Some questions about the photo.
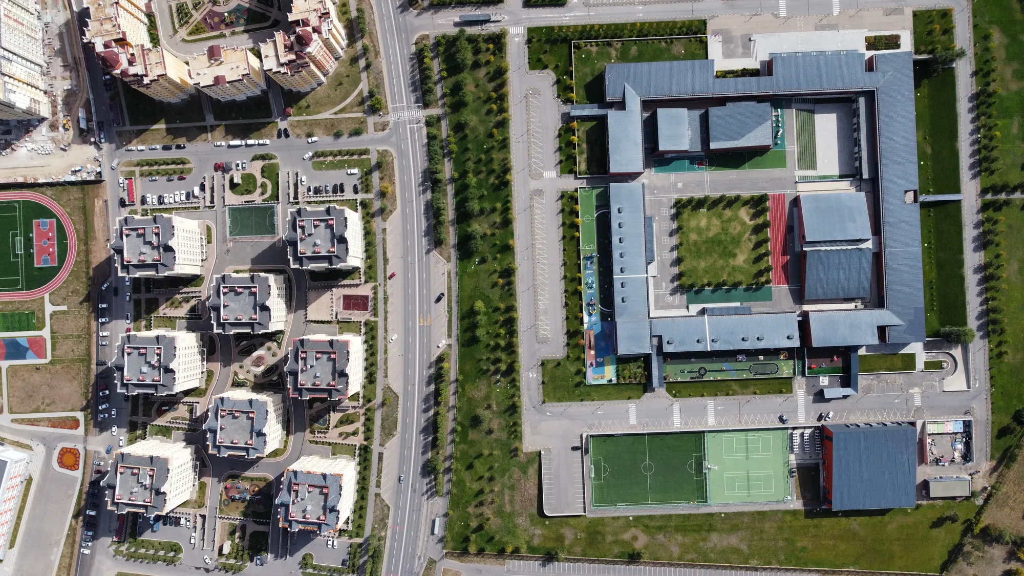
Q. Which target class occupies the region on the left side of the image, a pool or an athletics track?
athletics track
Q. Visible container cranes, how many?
0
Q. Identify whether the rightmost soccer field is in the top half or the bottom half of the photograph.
bottom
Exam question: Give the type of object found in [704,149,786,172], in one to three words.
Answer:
sports court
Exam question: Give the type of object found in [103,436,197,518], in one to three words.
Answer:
building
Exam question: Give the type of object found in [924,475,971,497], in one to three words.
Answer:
shed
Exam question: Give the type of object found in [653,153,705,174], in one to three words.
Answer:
sports court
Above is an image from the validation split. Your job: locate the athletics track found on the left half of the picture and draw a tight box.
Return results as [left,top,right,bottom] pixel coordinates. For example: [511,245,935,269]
[0,191,77,300]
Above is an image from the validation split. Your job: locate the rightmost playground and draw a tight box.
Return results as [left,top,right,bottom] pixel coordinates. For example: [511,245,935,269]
[807,347,850,375]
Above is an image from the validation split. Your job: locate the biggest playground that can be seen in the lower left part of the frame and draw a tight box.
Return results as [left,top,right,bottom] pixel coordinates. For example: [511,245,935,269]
[222,478,272,512]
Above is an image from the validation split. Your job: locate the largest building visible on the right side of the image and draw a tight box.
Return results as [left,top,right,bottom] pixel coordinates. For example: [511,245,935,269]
[603,50,926,354]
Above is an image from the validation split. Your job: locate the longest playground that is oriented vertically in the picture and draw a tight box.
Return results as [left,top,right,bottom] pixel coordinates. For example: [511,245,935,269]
[579,185,617,385]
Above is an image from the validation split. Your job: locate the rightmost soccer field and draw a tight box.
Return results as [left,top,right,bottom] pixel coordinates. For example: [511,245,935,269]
[590,432,708,508]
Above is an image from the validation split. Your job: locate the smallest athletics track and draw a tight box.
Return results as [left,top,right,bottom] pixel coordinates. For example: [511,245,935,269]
[770,193,789,286]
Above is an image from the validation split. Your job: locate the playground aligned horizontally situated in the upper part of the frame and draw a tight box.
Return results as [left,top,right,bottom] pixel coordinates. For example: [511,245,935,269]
[195,3,263,31]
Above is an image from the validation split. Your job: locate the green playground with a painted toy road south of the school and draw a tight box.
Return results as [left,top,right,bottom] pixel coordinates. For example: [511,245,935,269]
[664,347,796,380]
